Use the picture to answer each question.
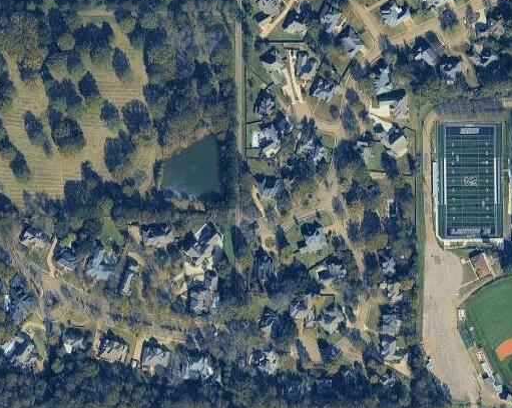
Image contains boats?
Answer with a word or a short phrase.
No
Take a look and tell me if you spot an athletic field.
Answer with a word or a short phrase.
Yes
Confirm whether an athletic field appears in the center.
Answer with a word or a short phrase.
No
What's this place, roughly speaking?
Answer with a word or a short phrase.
residential area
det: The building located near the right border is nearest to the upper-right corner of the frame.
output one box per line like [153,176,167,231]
[479,14,510,39]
